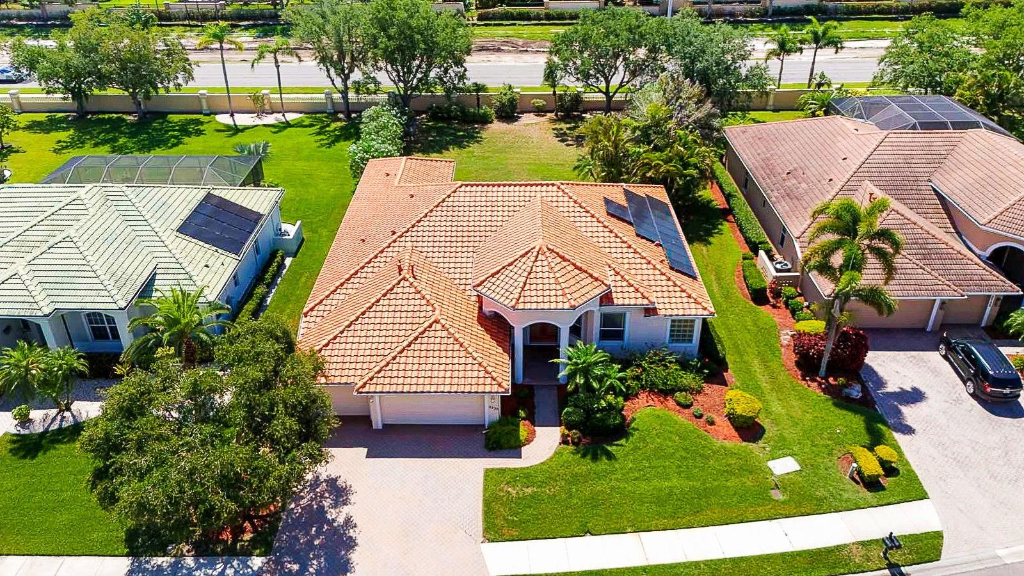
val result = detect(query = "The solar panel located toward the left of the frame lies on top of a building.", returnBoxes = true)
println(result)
[177,193,265,256]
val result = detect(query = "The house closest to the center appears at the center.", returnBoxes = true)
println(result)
[280,154,718,424]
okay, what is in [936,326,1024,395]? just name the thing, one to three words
car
